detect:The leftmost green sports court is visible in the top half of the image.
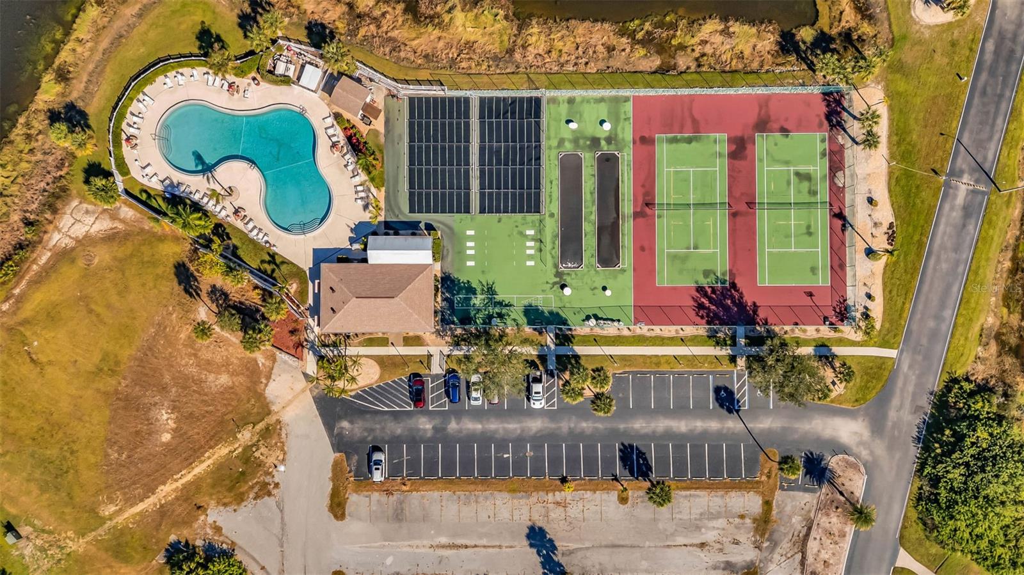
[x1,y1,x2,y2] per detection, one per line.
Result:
[384,94,633,326]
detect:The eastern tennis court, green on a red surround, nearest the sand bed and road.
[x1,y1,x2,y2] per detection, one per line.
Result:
[741,93,847,327]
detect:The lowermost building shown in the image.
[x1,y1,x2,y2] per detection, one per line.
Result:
[320,264,434,332]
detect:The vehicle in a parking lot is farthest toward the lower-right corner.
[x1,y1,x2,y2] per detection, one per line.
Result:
[530,370,545,408]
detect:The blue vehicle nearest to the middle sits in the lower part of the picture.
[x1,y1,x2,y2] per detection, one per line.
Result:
[447,373,461,403]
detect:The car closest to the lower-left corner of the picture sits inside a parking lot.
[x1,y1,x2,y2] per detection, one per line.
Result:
[370,452,385,482]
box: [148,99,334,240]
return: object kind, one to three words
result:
swimming pool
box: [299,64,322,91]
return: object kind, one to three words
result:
shed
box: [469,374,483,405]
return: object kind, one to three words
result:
car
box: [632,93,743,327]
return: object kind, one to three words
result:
tennis court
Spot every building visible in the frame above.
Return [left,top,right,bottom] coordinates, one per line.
[331,76,371,118]
[299,64,322,91]
[367,236,433,263]
[320,264,434,332]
